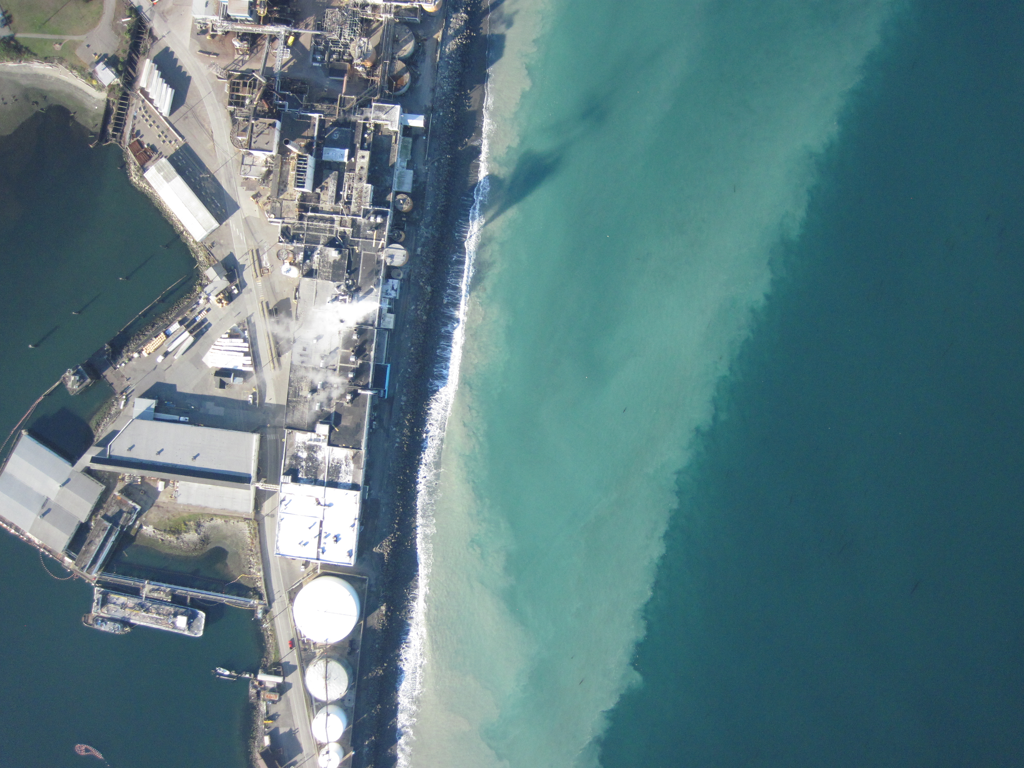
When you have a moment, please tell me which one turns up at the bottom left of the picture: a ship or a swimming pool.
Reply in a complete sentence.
There is a ship at the bottom left of the picture.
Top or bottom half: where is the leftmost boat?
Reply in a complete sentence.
The leftmost boat is in the bottom half of the image.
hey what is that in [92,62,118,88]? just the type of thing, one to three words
house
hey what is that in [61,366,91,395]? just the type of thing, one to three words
pier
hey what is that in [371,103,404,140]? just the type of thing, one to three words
building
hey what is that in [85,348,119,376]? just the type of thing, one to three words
pier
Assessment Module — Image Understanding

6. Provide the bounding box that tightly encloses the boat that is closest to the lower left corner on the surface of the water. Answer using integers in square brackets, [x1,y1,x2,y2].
[82,613,132,635]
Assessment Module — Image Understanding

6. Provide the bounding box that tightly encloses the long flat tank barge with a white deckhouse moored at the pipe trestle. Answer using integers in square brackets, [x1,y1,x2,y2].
[92,588,206,637]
